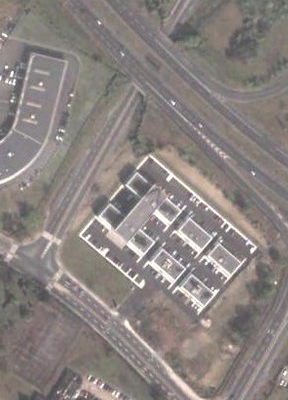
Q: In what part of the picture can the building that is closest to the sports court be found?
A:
bottom left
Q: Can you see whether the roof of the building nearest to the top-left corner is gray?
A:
Yes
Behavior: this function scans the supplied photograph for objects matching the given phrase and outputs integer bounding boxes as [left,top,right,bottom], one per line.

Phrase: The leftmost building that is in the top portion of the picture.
[0,54,68,183]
